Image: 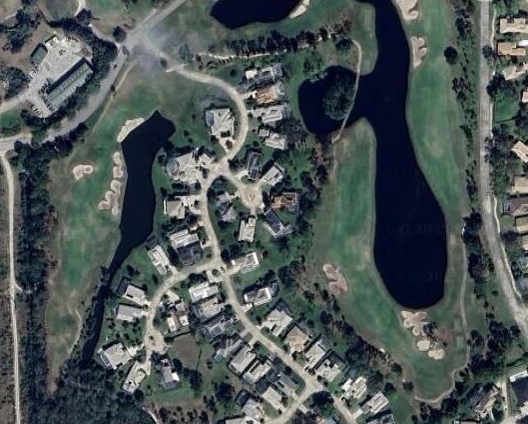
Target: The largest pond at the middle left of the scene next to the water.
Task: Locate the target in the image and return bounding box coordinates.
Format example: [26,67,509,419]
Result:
[83,109,175,361]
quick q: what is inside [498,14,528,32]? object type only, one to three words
house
